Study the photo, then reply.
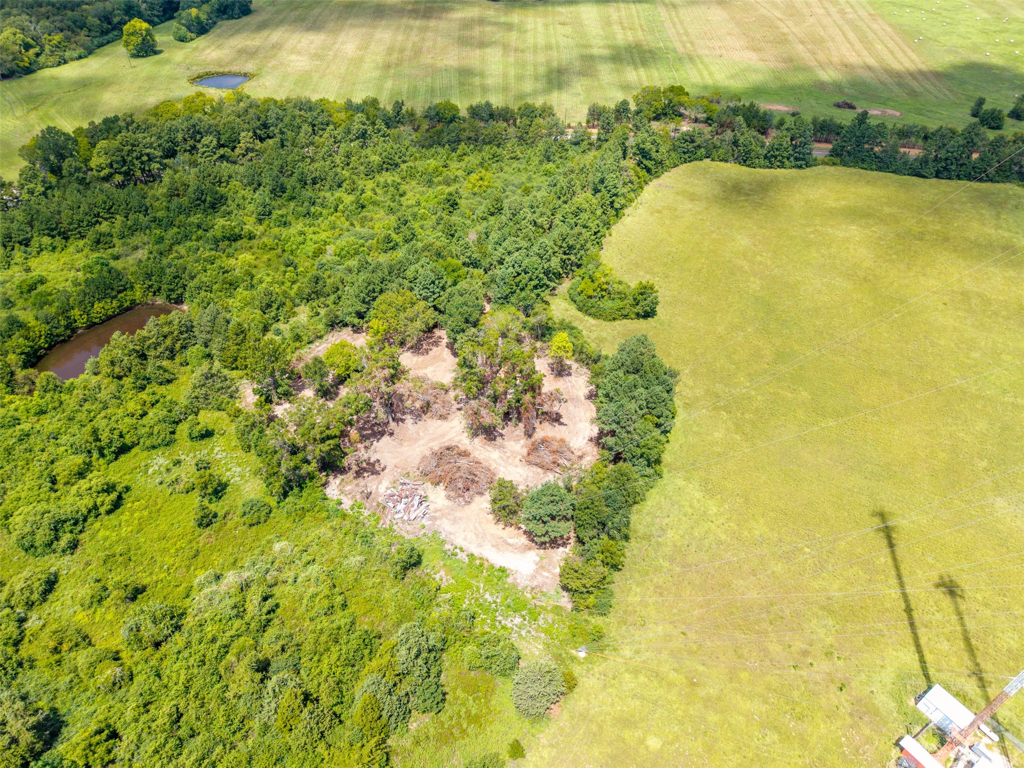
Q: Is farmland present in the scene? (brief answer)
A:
Yes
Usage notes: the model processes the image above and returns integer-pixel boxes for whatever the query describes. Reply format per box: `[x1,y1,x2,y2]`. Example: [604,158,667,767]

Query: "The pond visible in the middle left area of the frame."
[22,304,185,399]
